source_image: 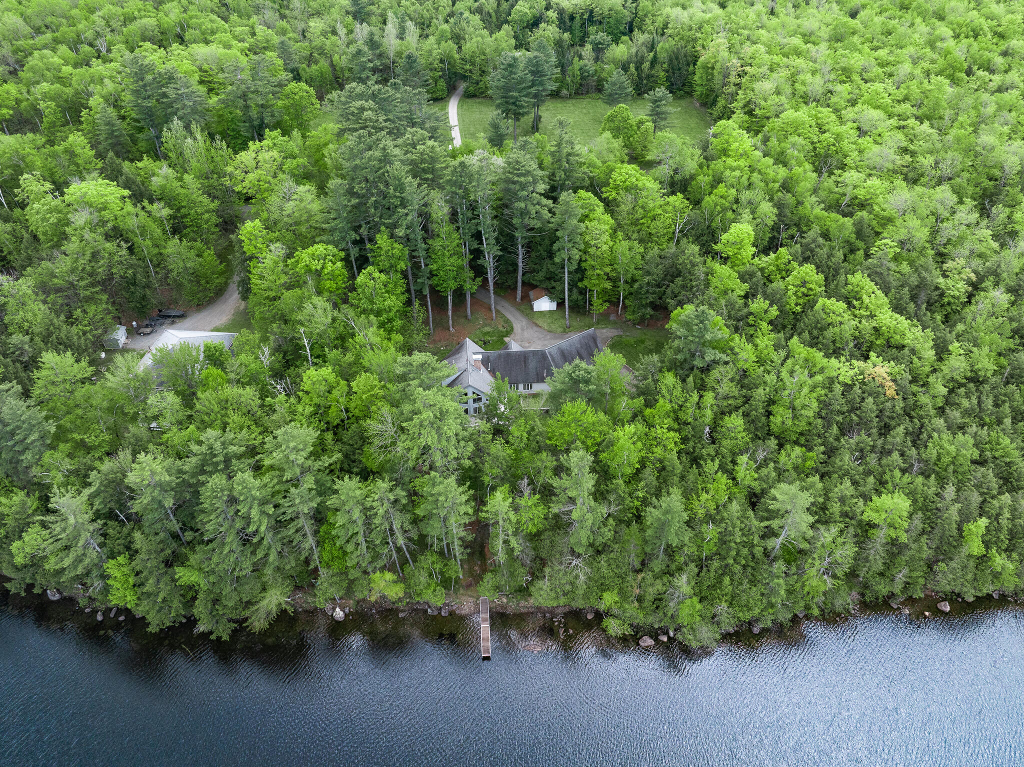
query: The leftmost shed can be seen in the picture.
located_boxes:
[101,324,129,349]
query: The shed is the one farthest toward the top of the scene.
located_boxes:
[529,282,561,312]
